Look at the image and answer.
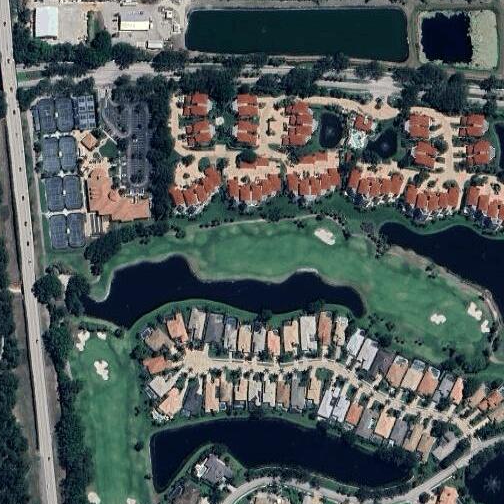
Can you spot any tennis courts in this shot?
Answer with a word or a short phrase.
Yes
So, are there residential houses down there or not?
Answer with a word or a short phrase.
Yes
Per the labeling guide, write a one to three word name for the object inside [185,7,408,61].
pond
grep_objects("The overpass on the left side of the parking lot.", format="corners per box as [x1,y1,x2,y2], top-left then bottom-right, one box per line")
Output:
[0,54,52,449]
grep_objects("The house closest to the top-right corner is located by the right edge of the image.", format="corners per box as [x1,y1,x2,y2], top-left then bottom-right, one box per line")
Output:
[459,113,488,137]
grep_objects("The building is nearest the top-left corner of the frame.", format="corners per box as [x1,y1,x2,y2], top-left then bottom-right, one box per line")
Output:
[35,6,57,37]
